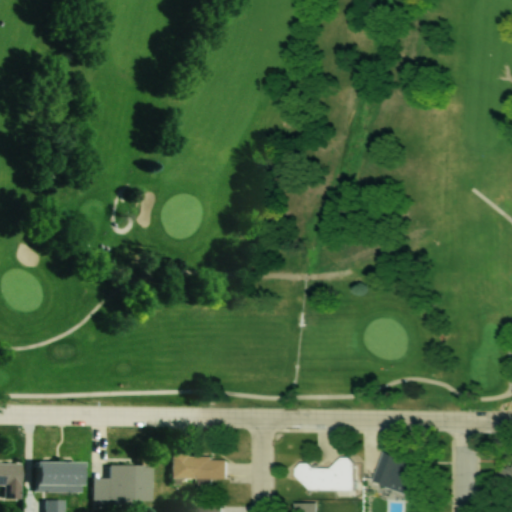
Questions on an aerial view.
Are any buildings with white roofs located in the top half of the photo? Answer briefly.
No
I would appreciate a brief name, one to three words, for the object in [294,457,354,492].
house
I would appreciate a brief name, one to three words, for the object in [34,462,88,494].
house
